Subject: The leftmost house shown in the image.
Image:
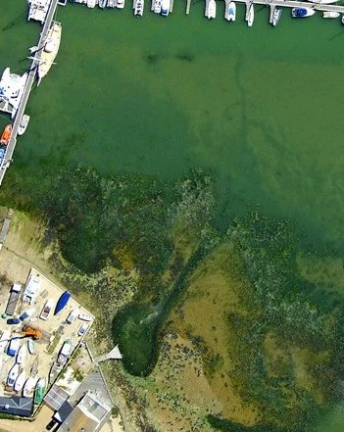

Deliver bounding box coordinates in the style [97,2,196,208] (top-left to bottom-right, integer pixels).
[0,394,36,416]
